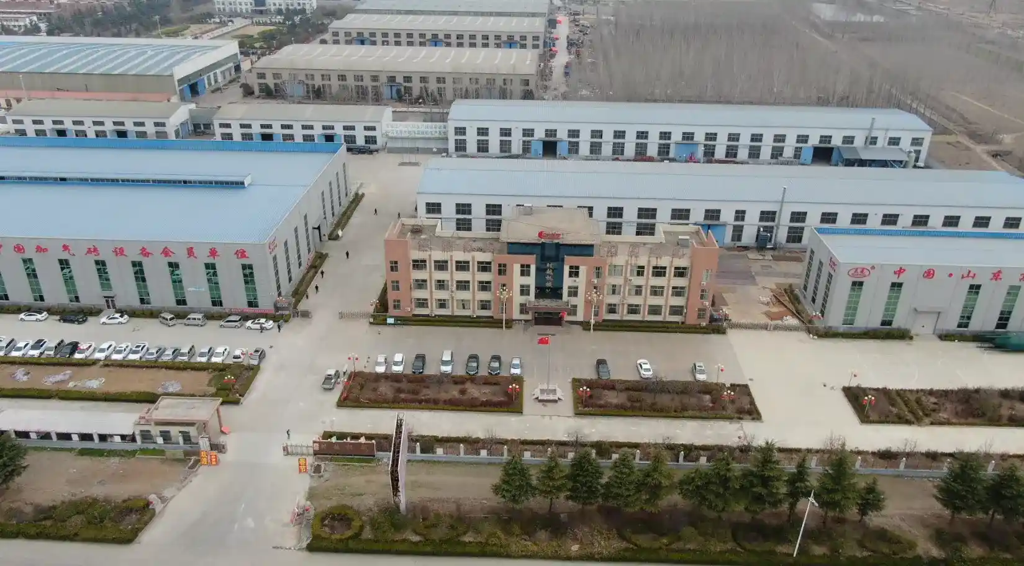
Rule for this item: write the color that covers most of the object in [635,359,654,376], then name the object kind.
white car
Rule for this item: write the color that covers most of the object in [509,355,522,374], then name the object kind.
white vehicle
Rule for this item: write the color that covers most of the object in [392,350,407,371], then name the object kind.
white car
